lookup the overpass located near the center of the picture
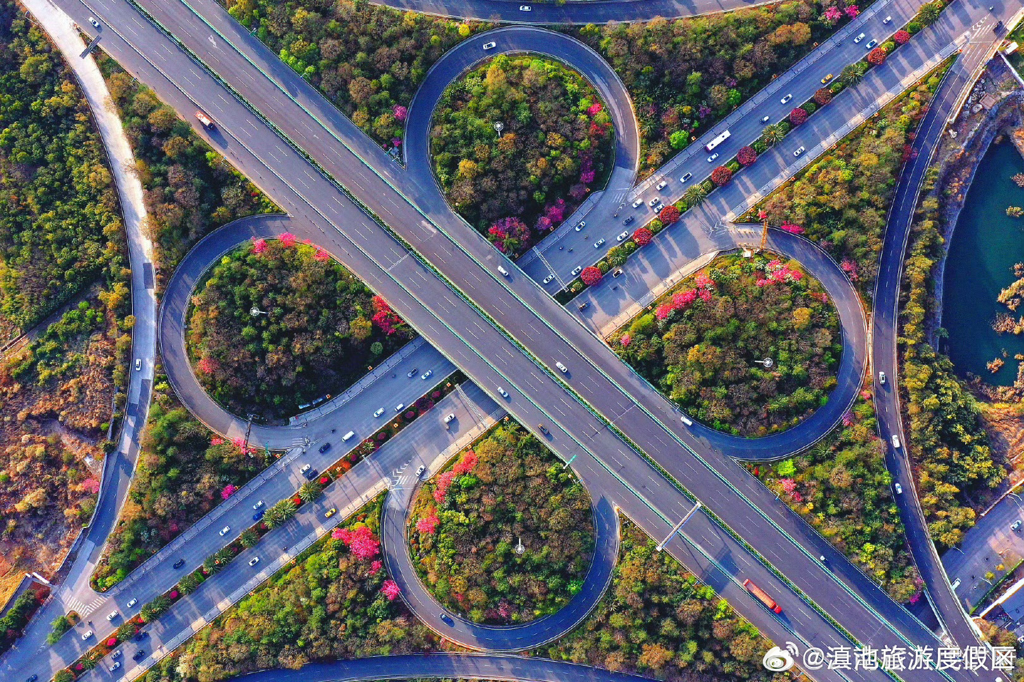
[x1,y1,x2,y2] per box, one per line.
[372,206,648,469]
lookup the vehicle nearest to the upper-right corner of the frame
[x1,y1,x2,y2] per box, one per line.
[989,20,1006,35]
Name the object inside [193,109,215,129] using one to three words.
vehicle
